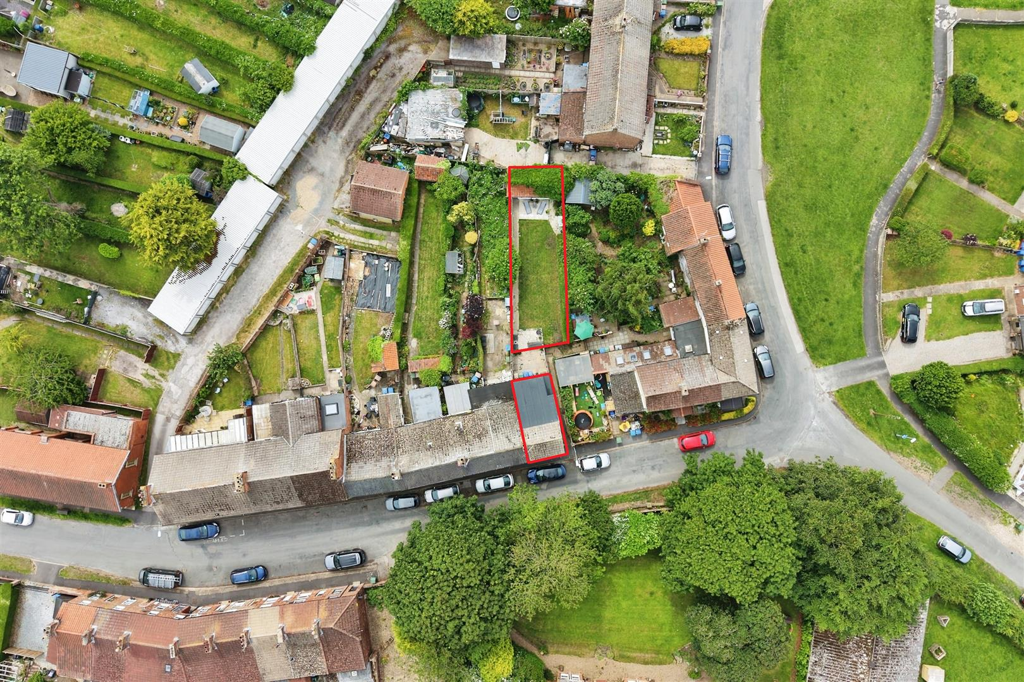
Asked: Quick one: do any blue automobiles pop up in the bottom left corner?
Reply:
Yes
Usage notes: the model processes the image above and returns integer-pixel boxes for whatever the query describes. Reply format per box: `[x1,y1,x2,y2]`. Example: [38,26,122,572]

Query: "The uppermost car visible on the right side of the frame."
[671,13,702,33]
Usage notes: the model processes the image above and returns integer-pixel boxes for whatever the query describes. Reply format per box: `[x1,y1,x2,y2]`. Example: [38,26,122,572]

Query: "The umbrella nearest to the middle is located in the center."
[573,318,594,339]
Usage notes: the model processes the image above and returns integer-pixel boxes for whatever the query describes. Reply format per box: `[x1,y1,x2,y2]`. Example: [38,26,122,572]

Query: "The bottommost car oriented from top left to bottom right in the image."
[933,532,972,565]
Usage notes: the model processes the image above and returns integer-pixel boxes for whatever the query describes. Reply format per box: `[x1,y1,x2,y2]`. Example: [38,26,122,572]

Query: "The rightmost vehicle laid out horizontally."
[959,298,1009,318]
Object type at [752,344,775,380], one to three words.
car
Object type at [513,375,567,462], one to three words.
house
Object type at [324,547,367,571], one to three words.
car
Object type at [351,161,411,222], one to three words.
building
